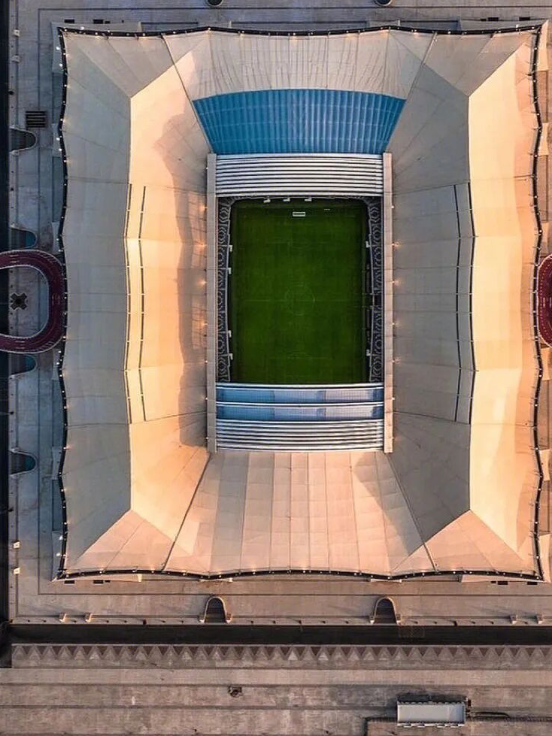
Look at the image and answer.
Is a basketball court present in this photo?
No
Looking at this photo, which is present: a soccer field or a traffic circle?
soccer field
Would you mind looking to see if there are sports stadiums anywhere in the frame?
Yes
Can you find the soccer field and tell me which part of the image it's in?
center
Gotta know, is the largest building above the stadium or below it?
below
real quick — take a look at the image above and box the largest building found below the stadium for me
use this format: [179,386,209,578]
[397,698,465,728]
